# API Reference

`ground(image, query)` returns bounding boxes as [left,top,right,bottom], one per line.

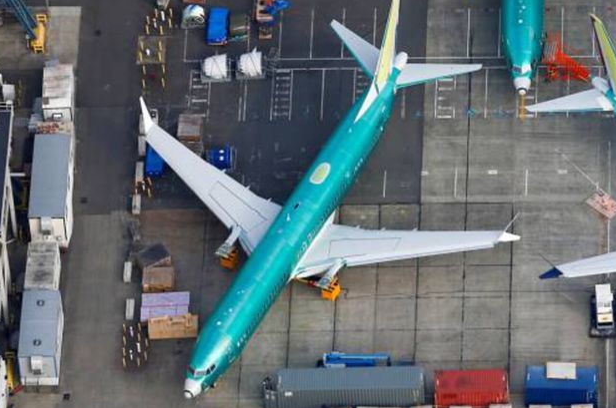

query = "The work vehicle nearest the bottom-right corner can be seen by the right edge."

[589,275,616,341]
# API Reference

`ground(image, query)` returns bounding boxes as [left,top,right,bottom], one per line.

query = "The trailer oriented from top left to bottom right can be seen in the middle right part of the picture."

[554,149,616,220]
